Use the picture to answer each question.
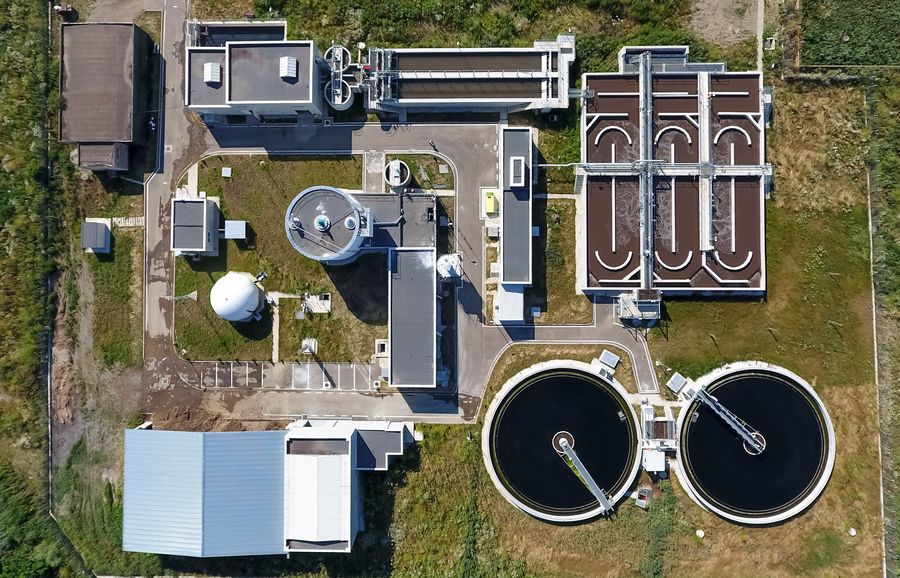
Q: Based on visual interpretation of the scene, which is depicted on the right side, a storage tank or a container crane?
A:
storage tank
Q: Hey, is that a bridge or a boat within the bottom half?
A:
bridge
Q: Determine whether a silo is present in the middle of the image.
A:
Yes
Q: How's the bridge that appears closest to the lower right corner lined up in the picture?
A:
on a diagonal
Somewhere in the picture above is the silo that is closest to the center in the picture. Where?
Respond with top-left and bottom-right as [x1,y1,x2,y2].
[437,252,463,287]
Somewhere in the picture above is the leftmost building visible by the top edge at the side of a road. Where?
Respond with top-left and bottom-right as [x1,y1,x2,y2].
[61,23,149,148]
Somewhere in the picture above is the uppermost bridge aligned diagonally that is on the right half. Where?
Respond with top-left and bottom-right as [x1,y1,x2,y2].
[693,385,766,456]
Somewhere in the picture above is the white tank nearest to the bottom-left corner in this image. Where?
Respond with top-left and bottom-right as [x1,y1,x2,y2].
[208,269,267,322]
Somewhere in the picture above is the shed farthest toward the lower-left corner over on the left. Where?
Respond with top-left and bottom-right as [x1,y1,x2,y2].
[123,418,295,558]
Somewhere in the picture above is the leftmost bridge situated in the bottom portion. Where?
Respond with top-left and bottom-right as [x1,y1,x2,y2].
[558,436,613,517]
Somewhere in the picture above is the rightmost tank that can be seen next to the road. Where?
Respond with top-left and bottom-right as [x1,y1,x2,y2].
[671,359,834,522]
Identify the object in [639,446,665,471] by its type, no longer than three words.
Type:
shed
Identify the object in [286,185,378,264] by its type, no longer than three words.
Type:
storage tank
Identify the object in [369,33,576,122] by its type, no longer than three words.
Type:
storage tank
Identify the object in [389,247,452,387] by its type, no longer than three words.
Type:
building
